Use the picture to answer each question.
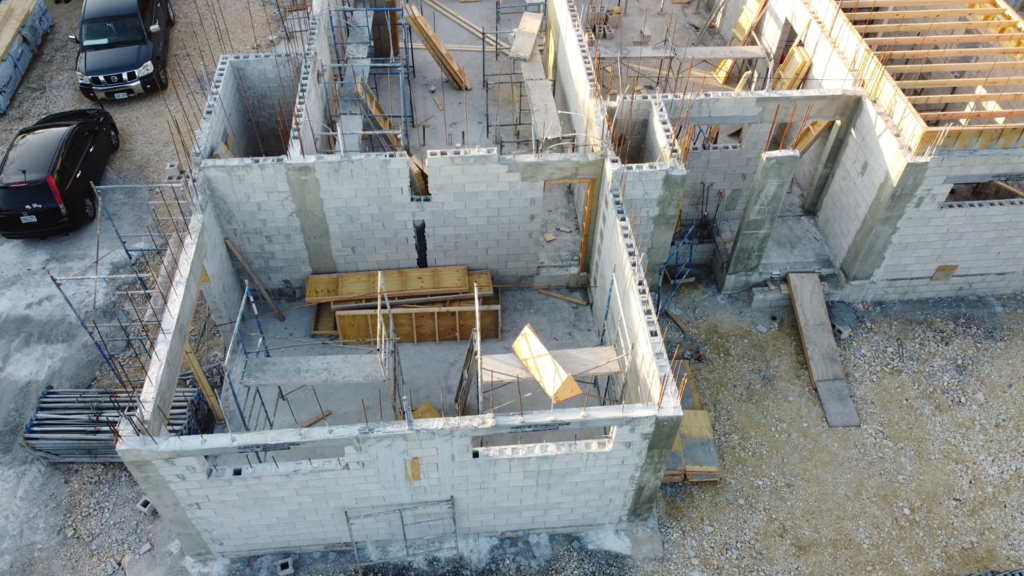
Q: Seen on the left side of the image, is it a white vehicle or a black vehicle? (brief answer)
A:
black vehicle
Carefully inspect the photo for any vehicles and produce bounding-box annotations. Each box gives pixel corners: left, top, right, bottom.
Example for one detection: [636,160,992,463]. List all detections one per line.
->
[59,0,173,101]
[0,110,119,246]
